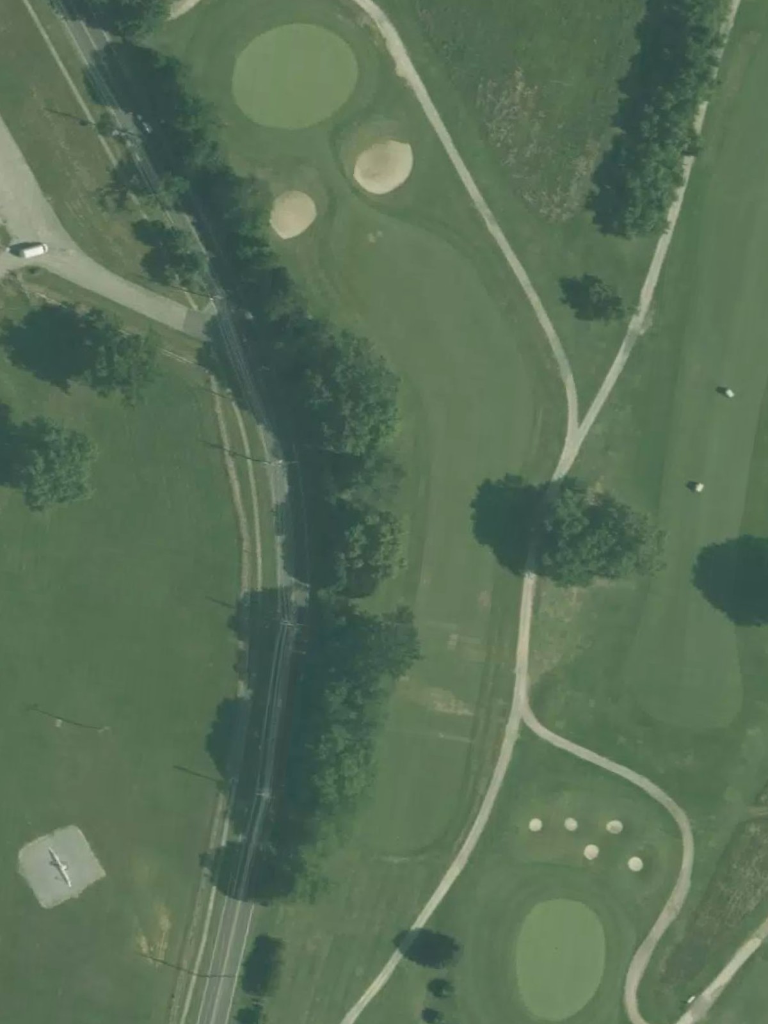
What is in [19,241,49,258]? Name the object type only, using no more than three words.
vehicle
